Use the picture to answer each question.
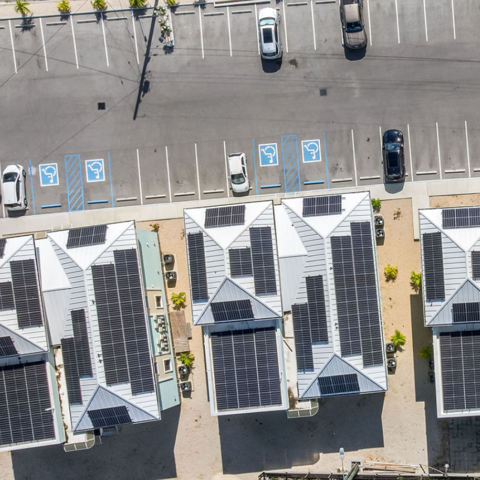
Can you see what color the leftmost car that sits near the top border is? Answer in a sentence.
The leftmost car that sits near the top border is white.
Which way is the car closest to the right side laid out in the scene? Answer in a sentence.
In this picture, the car closest to the right side is oriented from top to bottom.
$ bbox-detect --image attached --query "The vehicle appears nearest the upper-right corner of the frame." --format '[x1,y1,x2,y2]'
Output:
[340,0,366,50]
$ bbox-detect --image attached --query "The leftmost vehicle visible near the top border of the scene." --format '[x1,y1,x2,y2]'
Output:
[254,8,284,60]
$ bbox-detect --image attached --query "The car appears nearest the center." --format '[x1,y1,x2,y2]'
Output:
[227,153,251,194]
